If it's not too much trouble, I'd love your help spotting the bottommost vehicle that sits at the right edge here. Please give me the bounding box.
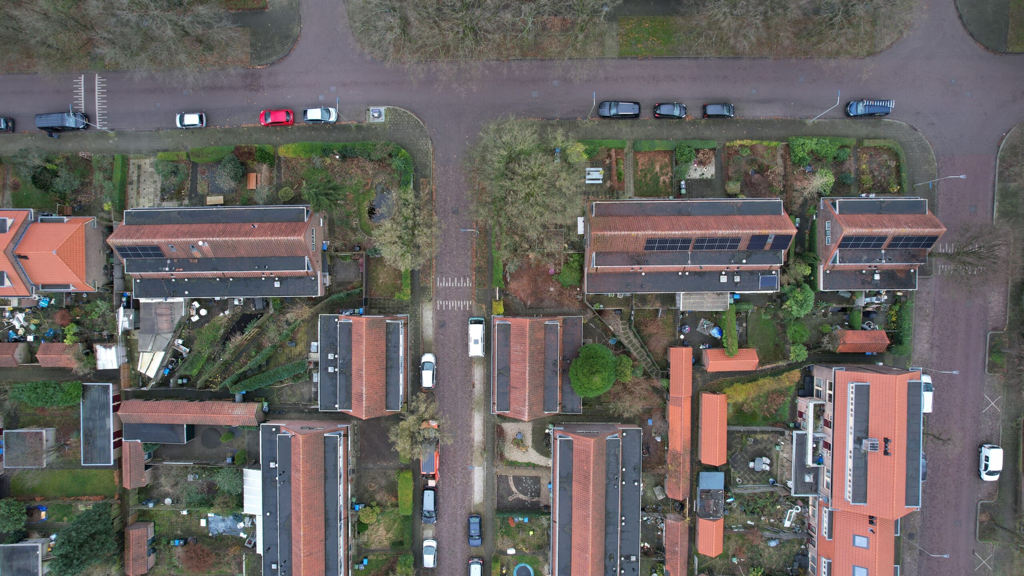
[976,443,1000,480]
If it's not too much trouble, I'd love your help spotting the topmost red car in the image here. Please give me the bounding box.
[261,108,295,126]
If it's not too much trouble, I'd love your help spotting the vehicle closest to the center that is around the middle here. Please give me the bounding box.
[467,316,485,357]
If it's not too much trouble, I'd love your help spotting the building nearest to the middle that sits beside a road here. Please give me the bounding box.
[489,315,583,422]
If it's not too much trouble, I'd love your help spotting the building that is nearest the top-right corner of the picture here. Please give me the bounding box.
[809,197,948,290]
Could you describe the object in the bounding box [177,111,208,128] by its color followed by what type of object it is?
white car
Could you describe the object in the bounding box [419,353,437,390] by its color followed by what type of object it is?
white car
